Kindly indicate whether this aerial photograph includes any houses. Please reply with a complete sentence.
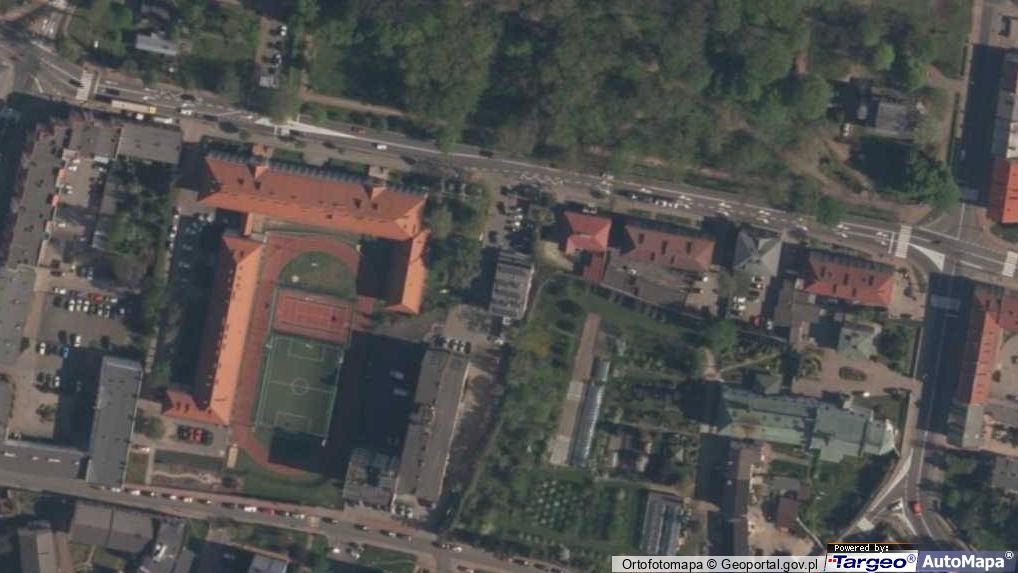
Yes, I can see a house in this picture.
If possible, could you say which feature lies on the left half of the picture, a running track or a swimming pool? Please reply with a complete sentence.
Looking on the left half of the picture, you will find a running track.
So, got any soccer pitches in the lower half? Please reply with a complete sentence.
Yes, looking in the lower half, one can make out a soccer pitch.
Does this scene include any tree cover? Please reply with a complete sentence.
Yes, the picture does contain tree cover.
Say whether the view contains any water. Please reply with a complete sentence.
No, there is no water in the image.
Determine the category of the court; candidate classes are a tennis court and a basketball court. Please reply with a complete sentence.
I'd identify the court as a basketball court.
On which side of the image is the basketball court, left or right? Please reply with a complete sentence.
The basketball court appears in the left half of the scene.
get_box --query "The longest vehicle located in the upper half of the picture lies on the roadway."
[110,99,157,114]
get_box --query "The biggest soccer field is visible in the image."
[254,334,345,439]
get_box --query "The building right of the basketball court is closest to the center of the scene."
[489,254,533,320]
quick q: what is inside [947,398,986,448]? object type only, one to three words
house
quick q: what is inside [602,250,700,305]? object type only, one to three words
building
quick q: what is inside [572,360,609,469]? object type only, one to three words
greenhouse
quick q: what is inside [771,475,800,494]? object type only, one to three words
shed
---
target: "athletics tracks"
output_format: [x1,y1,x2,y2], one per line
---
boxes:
[230,235,376,478]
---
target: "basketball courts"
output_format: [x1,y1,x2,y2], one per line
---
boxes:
[273,288,352,344]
